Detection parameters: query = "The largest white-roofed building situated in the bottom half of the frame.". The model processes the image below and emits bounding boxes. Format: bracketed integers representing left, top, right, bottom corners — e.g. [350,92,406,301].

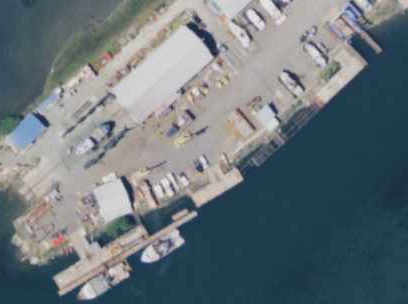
[92,178,132,222]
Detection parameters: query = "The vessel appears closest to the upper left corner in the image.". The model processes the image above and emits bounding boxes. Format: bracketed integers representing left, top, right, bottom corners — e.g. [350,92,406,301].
[71,126,110,156]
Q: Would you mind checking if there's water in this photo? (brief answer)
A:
Yes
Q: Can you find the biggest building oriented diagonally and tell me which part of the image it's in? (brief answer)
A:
top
